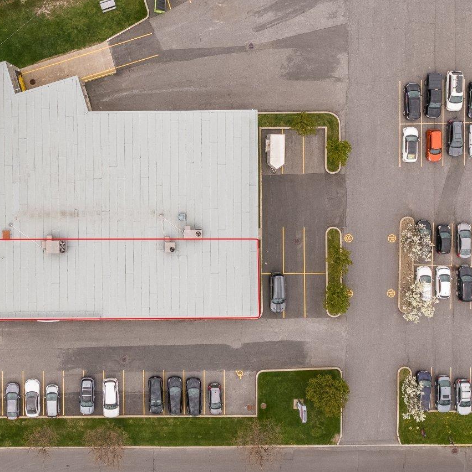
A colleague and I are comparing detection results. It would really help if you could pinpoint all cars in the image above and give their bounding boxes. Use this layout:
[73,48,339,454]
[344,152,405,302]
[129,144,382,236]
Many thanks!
[466,82,472,119]
[78,376,97,415]
[4,383,21,420]
[269,272,287,313]
[23,377,42,418]
[147,375,165,414]
[416,266,434,301]
[435,374,452,413]
[415,219,434,251]
[403,83,423,121]
[401,127,421,162]
[186,376,202,417]
[454,222,472,258]
[45,384,60,418]
[436,224,453,254]
[415,370,434,413]
[454,264,472,303]
[167,375,184,416]
[424,130,444,162]
[434,266,453,299]
[453,378,472,415]
[208,382,224,415]
[445,120,465,156]
[101,378,120,418]
[445,72,465,111]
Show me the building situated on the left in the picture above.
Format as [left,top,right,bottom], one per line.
[0,61,265,320]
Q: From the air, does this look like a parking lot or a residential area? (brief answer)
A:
parking lot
